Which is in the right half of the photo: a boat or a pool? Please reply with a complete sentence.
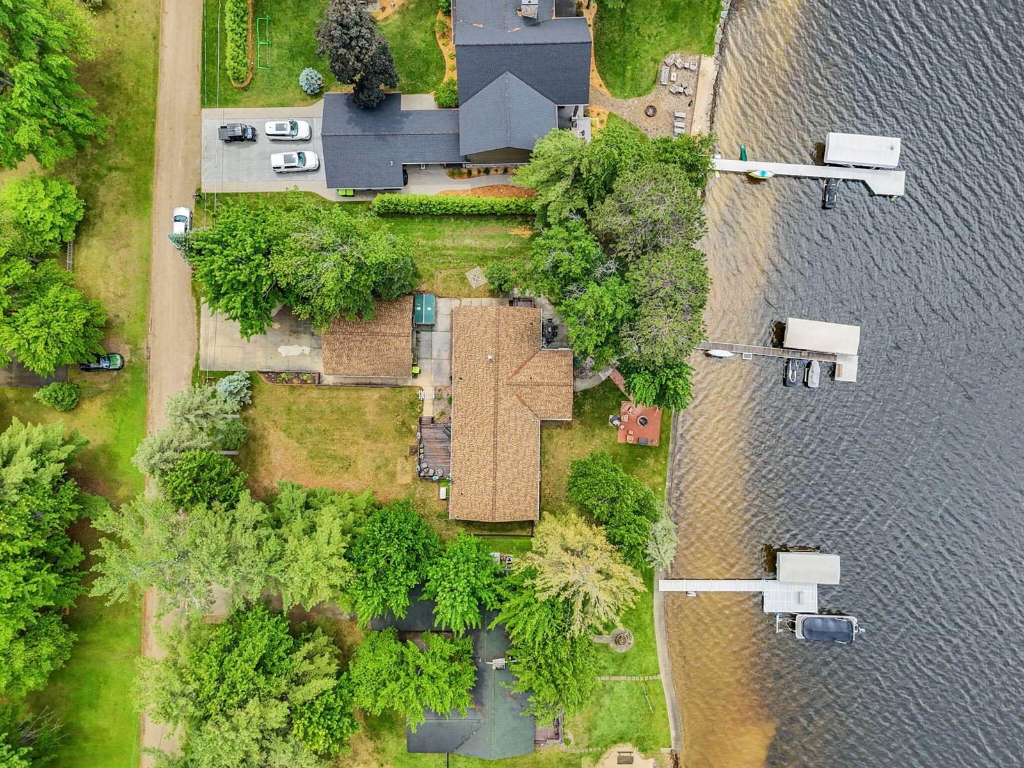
Visible in the right half of the photo is a boat.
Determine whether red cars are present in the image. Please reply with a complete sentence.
No, this view has no red car in it.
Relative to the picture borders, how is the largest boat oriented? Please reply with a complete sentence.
I'd say the largest boat is aligned from side to side in the picture.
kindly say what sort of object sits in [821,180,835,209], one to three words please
boat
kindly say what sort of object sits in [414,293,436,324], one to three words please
shed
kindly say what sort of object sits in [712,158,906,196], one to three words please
pier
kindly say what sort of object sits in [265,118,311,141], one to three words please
car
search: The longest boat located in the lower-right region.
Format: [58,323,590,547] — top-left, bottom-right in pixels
[794,614,866,642]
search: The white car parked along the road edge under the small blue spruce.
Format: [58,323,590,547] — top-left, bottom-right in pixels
[171,204,193,235]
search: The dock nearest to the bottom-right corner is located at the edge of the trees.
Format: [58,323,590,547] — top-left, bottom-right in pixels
[666,577,820,614]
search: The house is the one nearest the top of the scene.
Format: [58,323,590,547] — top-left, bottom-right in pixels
[321,0,593,191]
